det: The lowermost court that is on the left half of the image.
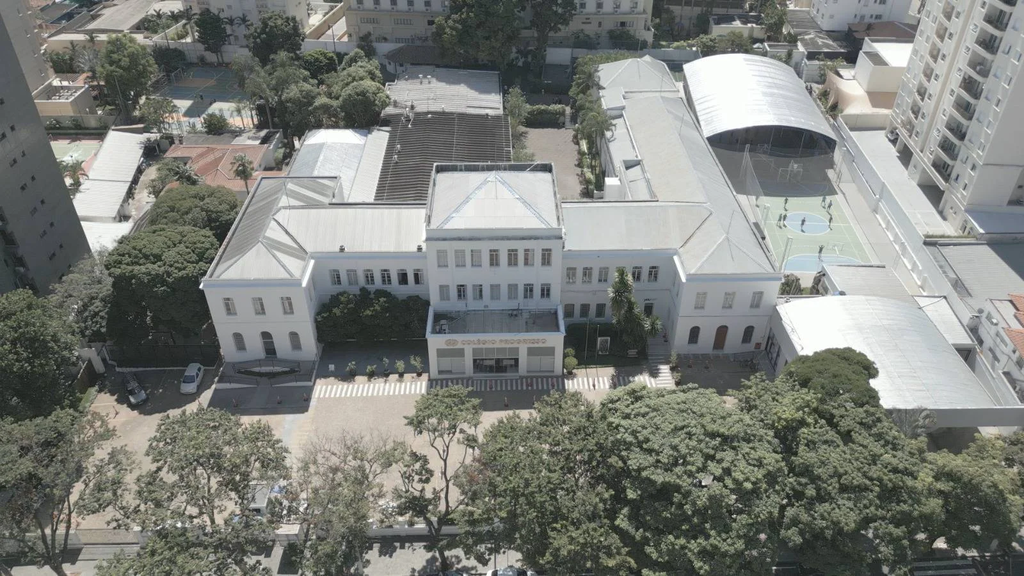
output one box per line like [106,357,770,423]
[52,142,107,163]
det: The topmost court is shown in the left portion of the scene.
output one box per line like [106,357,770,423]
[154,65,256,129]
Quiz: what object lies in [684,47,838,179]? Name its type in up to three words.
building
